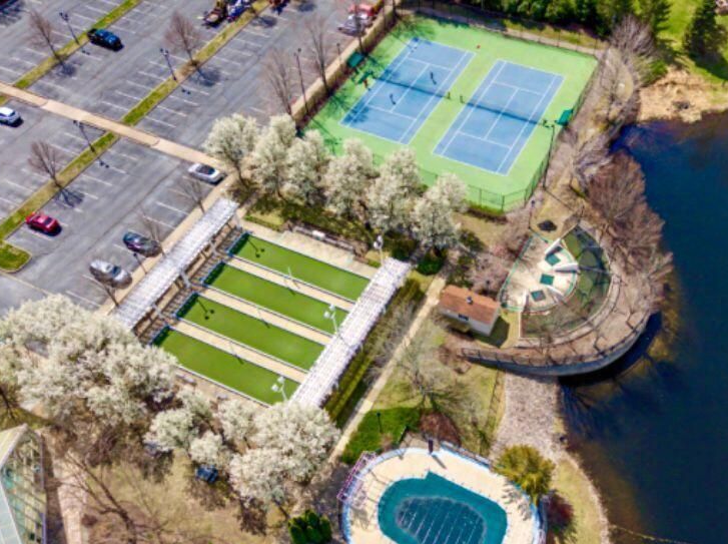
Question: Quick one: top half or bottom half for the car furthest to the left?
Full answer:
The car furthest to the left sits in the top half of the picture.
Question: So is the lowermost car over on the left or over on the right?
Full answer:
The lowermost car is on the left side of the image.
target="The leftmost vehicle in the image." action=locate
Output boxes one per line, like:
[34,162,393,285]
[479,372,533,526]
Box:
[0,106,23,128]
